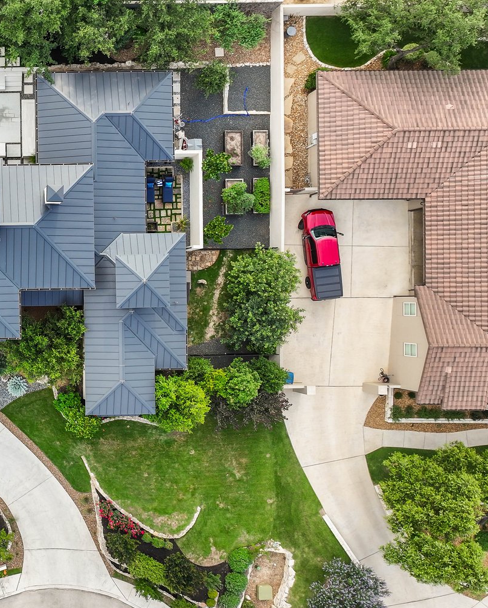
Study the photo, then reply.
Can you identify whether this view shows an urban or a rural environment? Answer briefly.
urban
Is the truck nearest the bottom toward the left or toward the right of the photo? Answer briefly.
right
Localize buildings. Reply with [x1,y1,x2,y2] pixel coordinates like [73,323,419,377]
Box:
[303,69,488,413]
[0,69,189,418]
